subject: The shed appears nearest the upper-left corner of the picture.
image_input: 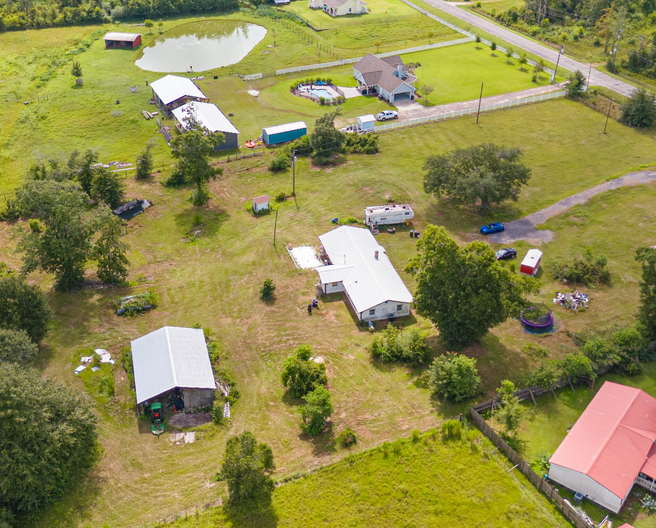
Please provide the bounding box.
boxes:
[103,32,140,50]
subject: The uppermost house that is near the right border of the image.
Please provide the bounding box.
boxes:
[548,381,656,514]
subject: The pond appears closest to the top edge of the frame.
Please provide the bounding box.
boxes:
[136,20,267,72]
